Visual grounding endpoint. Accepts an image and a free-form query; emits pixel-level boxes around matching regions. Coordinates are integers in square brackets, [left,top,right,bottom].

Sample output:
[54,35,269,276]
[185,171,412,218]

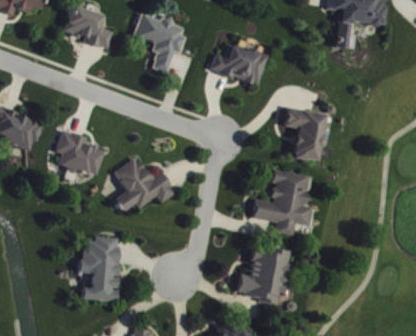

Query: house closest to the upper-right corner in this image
[322,0,390,48]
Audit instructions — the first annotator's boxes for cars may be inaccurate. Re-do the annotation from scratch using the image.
[219,79,224,90]
[74,120,79,130]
